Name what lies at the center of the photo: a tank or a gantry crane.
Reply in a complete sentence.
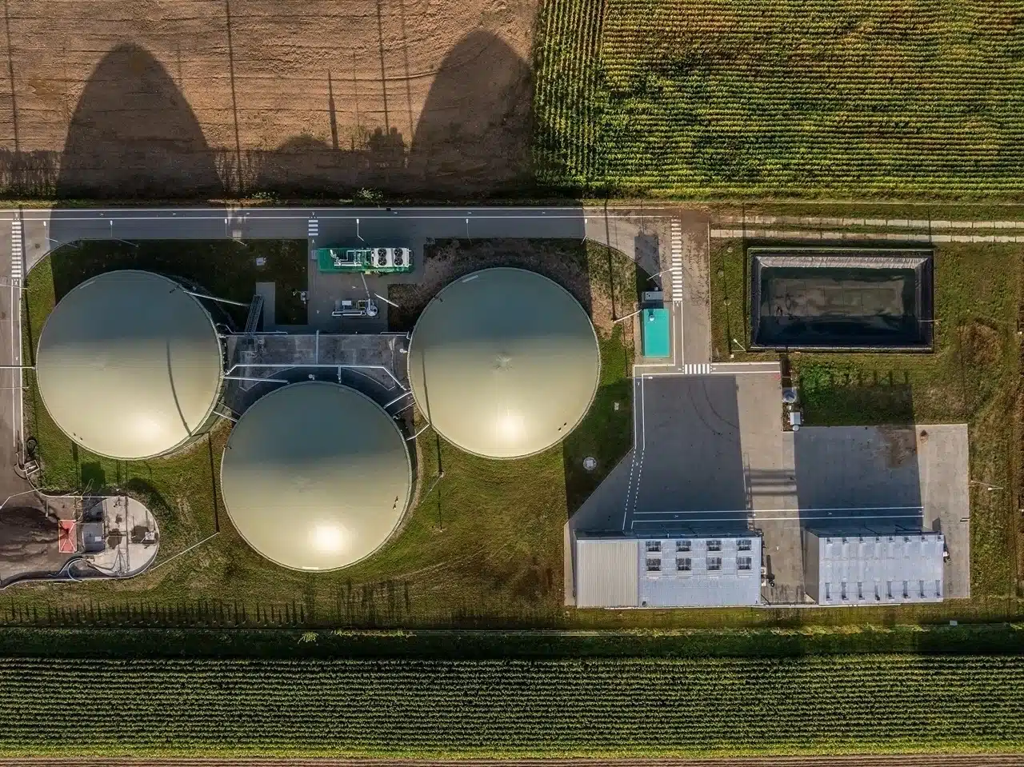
Looking at the center of the photo, you will find a tank.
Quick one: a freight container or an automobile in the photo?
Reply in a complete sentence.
Looking from above, you can make out a freight container.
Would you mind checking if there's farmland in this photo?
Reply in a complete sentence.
Yes, farmland shows up in the scene.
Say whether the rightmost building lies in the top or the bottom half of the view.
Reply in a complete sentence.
Seen from above, the rightmost building lies in the bottom half of the view.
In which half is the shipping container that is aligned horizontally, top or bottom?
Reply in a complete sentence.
It is in the top half that the shipping container that is aligned horizontally appears.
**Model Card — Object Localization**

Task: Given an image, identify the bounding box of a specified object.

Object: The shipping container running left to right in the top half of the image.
[312,248,416,275]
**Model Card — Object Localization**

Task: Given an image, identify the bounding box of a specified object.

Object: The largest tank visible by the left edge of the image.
[35,271,233,458]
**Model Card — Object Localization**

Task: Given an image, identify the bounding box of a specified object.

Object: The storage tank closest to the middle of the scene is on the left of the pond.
[408,267,600,459]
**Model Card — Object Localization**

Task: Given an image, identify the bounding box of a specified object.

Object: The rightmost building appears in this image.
[805,517,948,604]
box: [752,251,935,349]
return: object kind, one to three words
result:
pond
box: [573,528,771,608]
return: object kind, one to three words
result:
building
